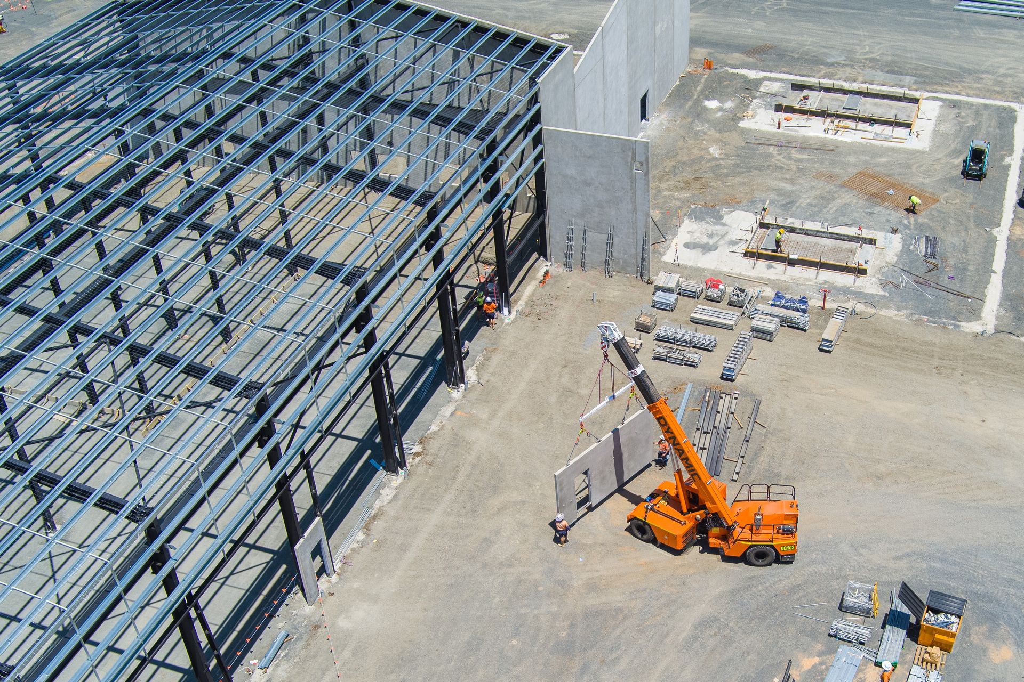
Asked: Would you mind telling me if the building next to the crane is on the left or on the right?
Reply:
left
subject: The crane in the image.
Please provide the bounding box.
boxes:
[594,311,800,569]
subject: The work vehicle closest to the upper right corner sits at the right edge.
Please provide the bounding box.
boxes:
[959,137,993,188]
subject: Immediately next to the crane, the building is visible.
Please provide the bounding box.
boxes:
[0,0,562,682]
